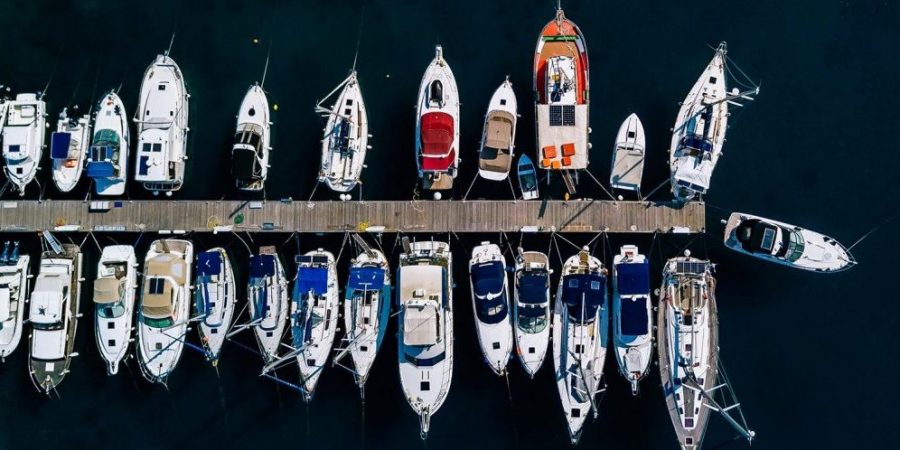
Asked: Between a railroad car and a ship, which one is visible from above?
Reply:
ship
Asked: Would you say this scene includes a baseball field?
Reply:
No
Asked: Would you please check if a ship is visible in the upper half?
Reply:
Yes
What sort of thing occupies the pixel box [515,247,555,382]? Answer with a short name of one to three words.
boat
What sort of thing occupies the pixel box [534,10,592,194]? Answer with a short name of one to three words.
ship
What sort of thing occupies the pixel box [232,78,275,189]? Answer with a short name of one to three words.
boat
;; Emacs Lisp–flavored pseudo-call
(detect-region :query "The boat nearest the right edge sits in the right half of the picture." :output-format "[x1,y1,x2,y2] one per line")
[719,214,861,272]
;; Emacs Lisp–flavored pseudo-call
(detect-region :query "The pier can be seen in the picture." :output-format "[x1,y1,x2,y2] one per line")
[0,201,706,233]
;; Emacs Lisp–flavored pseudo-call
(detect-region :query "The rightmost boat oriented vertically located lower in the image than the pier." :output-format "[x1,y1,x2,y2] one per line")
[653,250,755,450]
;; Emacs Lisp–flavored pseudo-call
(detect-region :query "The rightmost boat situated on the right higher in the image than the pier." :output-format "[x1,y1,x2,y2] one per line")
[664,42,759,204]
